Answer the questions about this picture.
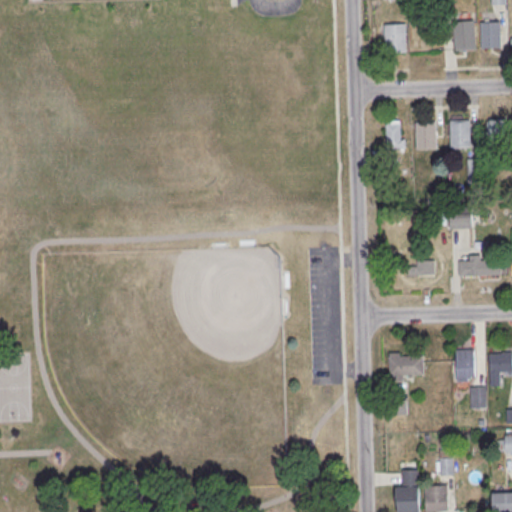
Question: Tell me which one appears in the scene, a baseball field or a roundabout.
baseball field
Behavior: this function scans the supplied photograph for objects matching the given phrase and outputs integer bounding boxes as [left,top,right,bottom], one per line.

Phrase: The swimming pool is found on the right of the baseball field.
[468,470,484,486]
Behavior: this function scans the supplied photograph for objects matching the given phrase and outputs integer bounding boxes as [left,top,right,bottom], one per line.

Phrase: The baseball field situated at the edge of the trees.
[42,247,286,487]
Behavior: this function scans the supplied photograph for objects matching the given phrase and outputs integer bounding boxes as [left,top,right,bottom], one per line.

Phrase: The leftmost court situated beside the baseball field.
[0,352,32,422]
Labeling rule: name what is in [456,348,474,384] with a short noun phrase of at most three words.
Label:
house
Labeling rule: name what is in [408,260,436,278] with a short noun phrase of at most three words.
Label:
house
